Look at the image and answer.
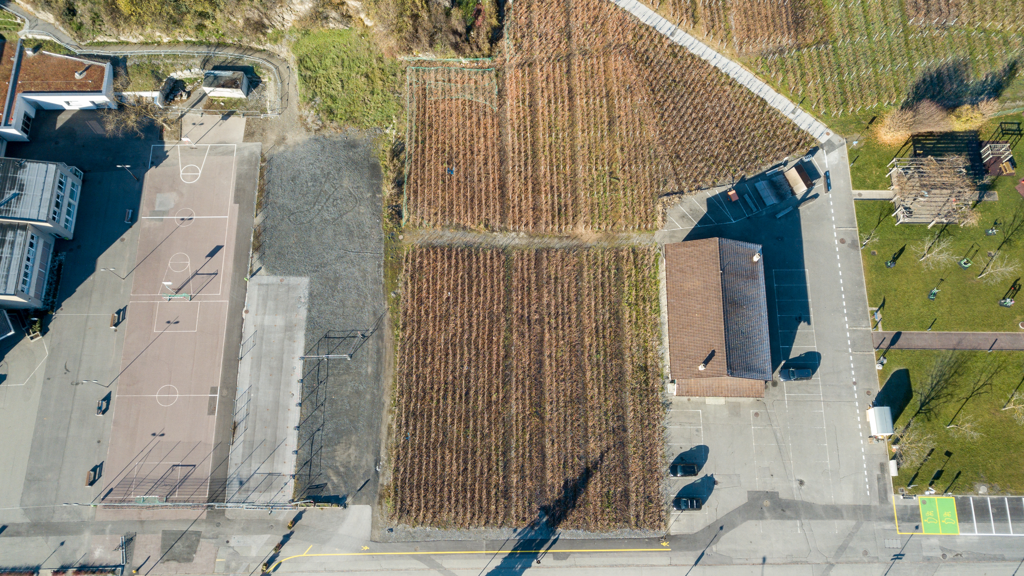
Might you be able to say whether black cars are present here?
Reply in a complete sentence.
Yes, a black car can be made out from above.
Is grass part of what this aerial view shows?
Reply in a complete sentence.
Yes, there is grass in the image.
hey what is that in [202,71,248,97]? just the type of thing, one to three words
shed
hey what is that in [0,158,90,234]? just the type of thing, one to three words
building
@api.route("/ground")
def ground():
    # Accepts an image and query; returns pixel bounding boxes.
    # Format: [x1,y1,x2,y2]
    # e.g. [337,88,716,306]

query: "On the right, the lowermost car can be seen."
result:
[672,496,705,513]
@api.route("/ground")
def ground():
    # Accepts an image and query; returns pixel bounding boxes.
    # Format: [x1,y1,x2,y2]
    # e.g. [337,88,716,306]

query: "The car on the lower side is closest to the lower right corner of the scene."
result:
[781,368,817,384]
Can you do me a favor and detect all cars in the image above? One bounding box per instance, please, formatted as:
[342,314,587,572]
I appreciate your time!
[670,462,701,479]
[672,496,705,513]
[781,368,817,384]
